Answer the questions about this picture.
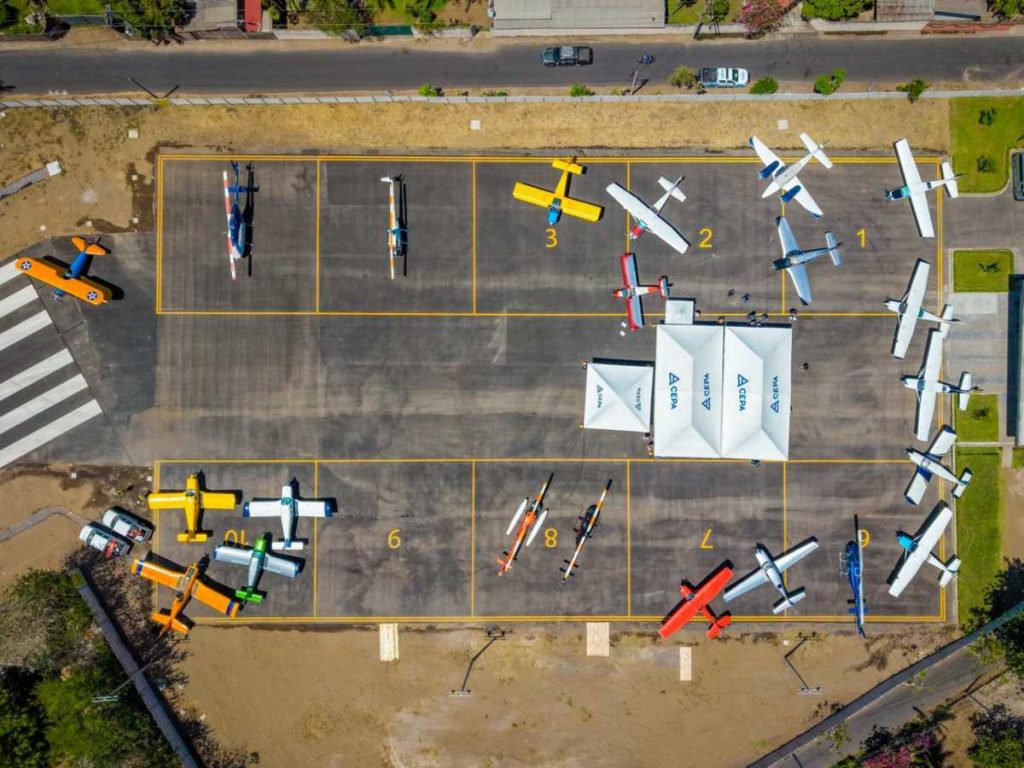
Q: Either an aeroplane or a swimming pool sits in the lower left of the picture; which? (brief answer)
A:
aeroplane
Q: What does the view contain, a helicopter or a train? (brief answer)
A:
helicopter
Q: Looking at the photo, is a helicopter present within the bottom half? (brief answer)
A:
Yes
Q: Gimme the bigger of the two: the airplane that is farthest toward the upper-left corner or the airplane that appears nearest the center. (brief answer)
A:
the airplane that is farthest toward the upper-left corner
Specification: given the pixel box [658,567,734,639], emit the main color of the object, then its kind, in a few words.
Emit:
red airplane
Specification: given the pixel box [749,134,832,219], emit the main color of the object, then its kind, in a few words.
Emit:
white airplane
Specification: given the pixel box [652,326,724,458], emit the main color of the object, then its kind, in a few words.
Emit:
white tent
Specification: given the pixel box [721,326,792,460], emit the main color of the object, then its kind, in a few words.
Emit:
white tent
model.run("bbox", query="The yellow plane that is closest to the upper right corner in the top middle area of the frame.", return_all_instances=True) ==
[513,160,601,224]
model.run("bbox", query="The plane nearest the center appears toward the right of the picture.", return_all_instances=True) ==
[613,254,669,330]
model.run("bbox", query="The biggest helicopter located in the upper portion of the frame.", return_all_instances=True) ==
[225,151,255,280]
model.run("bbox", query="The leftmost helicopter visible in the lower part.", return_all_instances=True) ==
[495,482,548,582]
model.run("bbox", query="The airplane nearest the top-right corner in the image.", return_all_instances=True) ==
[883,140,962,238]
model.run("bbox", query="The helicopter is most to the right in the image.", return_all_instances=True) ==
[839,530,871,642]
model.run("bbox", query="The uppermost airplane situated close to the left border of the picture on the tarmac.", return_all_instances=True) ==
[16,236,115,304]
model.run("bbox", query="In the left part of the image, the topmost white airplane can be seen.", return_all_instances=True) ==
[242,485,332,553]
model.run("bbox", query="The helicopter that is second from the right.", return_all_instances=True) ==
[560,489,607,589]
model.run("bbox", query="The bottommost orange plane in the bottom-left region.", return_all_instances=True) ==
[130,559,237,632]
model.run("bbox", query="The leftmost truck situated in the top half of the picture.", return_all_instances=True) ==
[541,44,593,69]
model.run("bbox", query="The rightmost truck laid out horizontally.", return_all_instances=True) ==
[697,65,749,90]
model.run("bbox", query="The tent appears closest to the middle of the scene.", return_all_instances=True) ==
[584,364,654,432]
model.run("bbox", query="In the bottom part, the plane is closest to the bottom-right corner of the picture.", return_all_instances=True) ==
[889,508,961,596]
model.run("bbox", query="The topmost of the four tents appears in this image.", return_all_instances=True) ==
[662,300,694,326]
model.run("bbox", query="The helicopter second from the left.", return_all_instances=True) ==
[381,173,409,280]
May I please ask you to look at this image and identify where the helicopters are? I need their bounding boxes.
[495,482,548,582]
[560,489,607,589]
[225,151,255,280]
[381,173,409,280]
[839,530,871,642]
